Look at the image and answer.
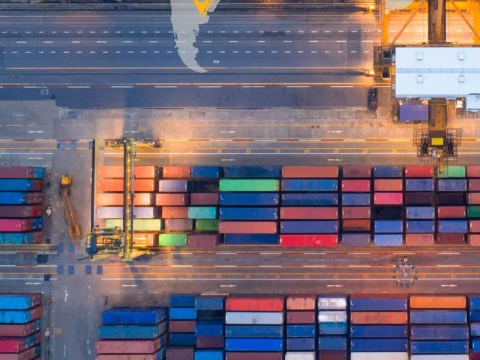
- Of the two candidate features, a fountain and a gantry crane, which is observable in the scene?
gantry crane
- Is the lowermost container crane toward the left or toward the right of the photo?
left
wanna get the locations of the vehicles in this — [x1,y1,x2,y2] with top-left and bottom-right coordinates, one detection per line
[56,175,81,242]
[369,87,377,110]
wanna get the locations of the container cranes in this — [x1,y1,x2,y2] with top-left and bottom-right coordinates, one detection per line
[365,0,480,168]
[88,132,157,264]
